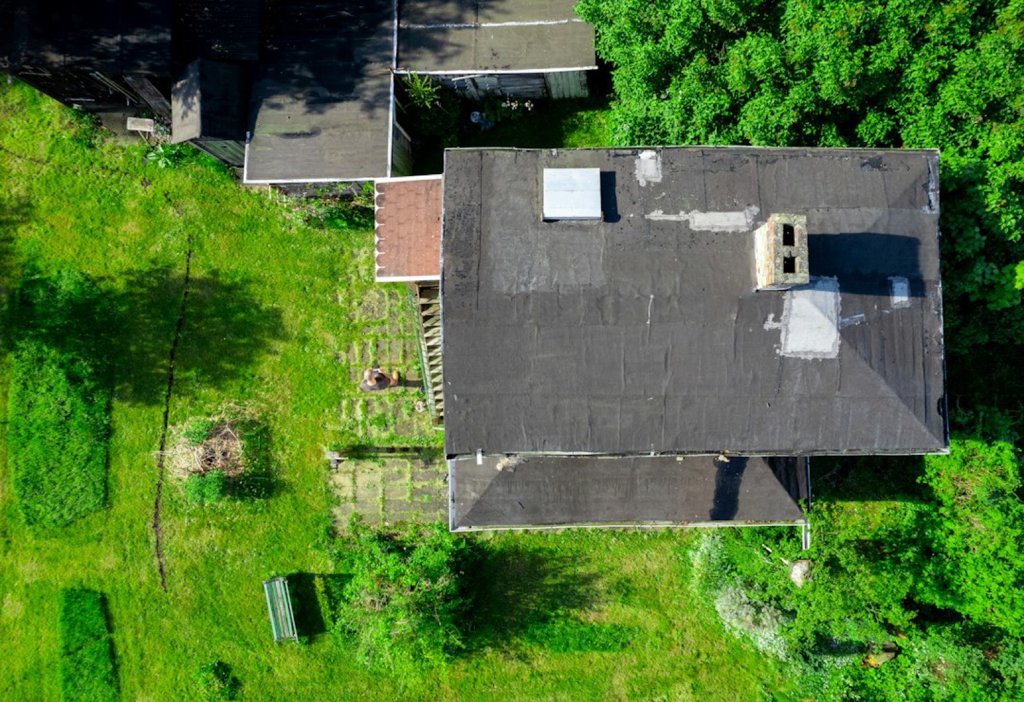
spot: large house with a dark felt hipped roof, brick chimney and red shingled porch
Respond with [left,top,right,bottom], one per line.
[375,144,952,551]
